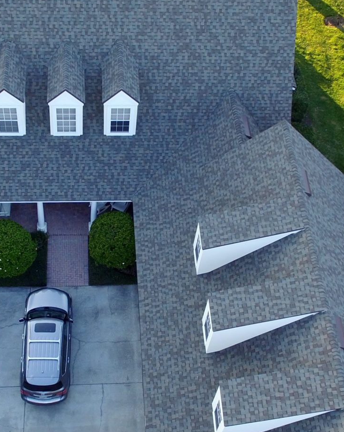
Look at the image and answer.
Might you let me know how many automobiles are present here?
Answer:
one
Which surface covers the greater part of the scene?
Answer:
buildings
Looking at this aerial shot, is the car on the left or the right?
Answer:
left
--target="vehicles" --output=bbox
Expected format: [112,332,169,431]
[15,288,74,405]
